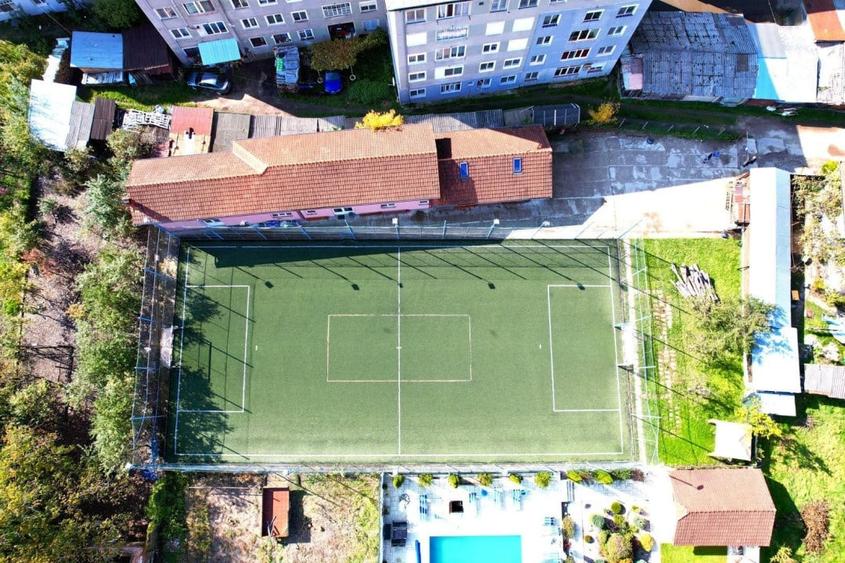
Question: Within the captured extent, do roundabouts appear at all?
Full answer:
No, the photo shows no roundabout.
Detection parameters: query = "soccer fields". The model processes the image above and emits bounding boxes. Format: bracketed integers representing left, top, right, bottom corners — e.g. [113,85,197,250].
[164,239,635,464]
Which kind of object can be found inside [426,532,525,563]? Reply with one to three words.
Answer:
swimming pool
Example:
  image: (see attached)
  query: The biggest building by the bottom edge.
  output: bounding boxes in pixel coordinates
[662,467,777,546]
